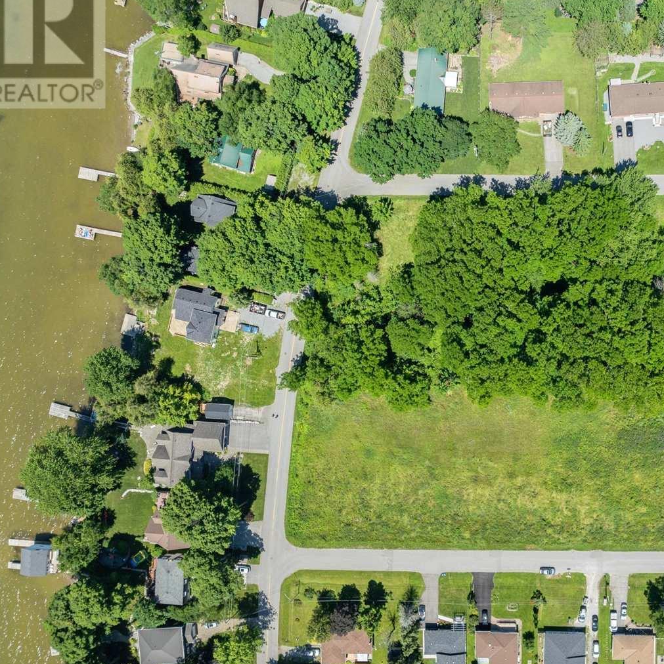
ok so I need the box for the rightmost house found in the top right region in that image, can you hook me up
[603,78,664,127]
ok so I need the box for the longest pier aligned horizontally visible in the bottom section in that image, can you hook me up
[48,402,107,423]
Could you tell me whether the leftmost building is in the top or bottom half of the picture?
bottom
